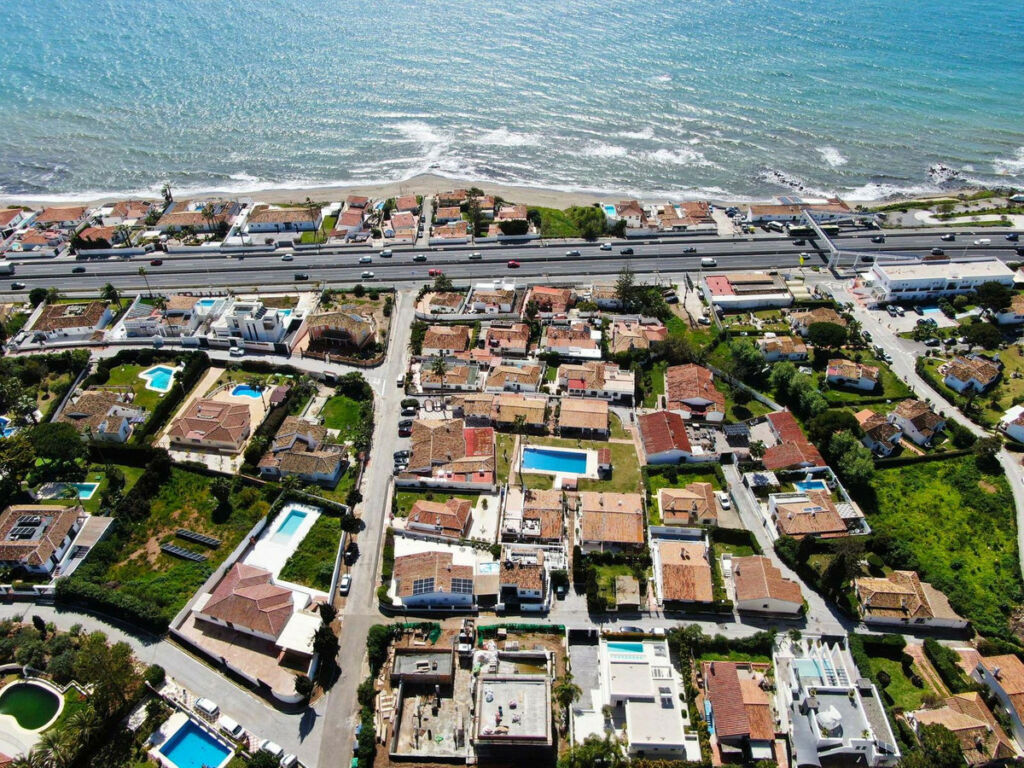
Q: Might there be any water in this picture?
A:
Yes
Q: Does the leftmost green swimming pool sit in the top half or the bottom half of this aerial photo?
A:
bottom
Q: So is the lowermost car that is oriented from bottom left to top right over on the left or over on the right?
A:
left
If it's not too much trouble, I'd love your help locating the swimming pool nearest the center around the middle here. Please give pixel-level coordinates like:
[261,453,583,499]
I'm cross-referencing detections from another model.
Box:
[519,446,590,477]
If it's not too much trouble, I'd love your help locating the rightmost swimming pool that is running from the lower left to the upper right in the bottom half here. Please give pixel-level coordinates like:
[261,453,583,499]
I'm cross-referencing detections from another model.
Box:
[270,509,309,546]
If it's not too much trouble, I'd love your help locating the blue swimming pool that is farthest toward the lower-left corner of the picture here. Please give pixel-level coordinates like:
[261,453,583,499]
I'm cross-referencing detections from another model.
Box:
[154,717,235,768]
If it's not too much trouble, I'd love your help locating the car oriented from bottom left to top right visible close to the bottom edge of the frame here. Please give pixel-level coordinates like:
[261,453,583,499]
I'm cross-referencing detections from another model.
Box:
[276,747,300,768]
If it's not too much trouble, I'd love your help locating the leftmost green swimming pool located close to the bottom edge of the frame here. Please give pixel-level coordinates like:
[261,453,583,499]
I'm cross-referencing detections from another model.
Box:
[0,679,66,733]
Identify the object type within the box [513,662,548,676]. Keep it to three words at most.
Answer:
swimming pool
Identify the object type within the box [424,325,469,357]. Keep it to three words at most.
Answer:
house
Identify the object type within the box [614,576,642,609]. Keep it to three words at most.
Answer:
shed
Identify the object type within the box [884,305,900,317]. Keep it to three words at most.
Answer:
vehicle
